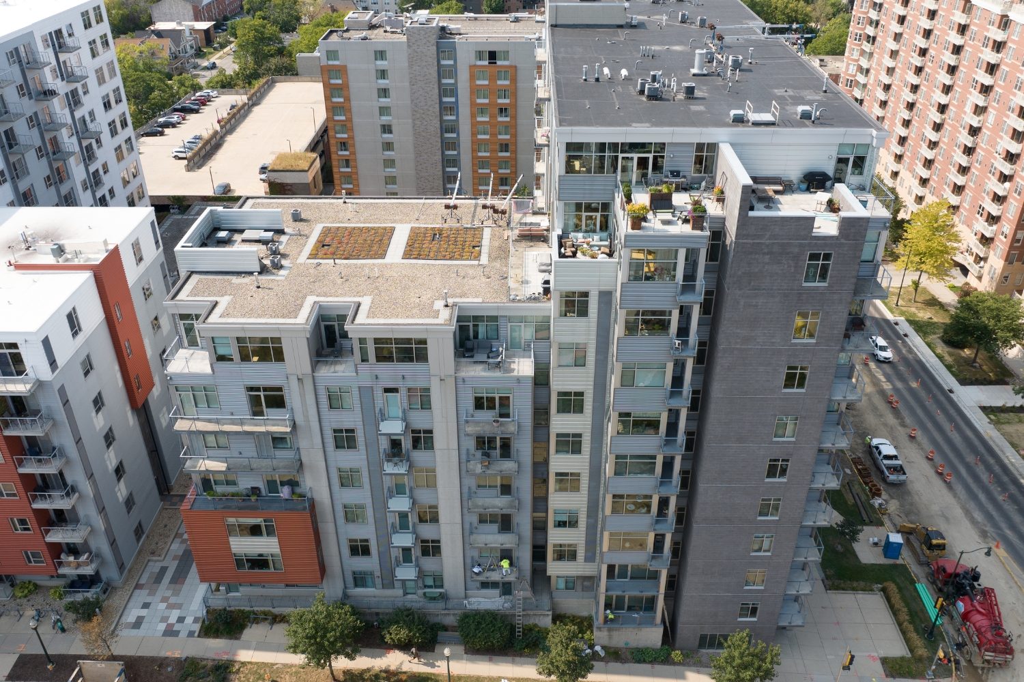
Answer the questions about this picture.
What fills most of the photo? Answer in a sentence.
What you mostly see from above here is buildings.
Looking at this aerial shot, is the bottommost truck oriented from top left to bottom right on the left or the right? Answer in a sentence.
The bottommost truck oriented from top left to bottom right sits on the right side.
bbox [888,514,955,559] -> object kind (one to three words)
work vehicle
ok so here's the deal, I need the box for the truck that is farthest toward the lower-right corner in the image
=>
[916,554,1024,665]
